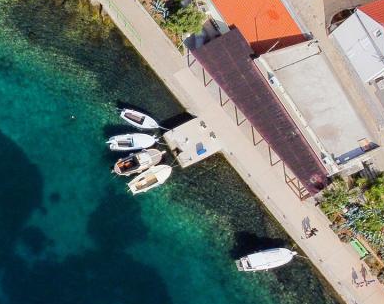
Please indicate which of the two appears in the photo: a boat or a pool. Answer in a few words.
boat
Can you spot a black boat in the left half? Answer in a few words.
No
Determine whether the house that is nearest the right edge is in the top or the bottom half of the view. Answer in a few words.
top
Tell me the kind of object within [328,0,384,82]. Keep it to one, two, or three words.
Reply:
house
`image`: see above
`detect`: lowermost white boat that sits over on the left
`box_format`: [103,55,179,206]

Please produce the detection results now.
[126,165,172,196]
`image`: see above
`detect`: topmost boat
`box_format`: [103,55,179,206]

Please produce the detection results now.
[118,110,160,128]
